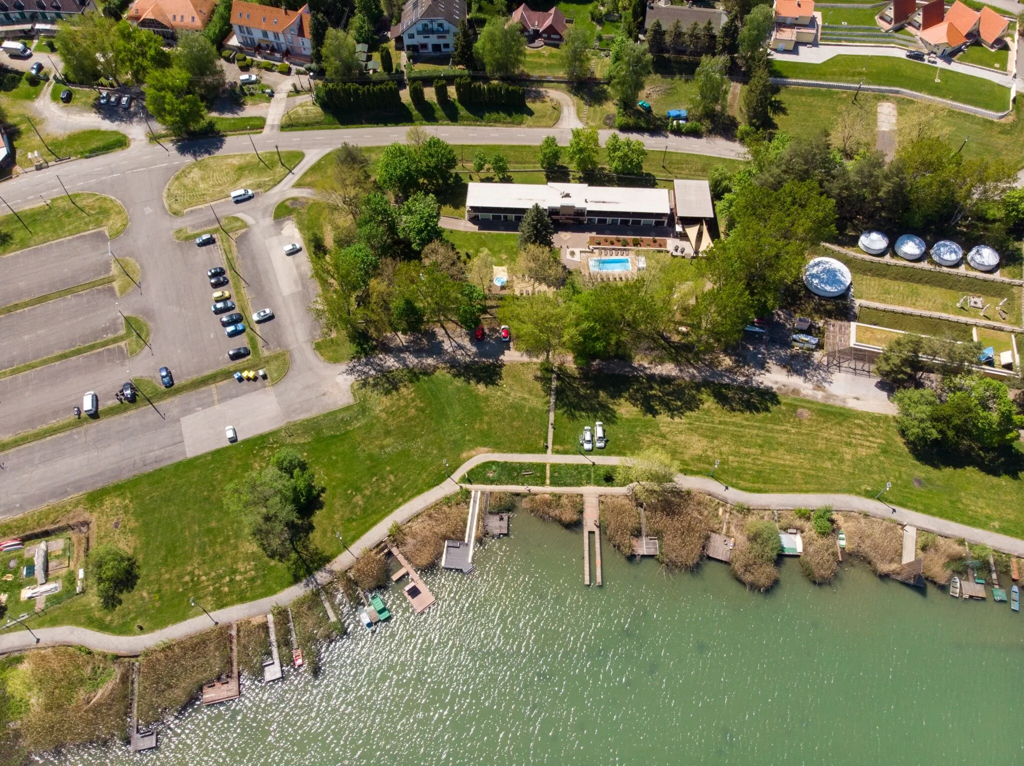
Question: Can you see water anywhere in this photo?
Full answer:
Yes, there is water in the image.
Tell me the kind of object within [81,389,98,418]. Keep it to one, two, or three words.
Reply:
vehicle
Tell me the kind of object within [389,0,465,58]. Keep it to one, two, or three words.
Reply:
house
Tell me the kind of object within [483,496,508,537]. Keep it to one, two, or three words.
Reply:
pier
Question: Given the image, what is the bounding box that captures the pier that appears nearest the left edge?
[131,663,157,752]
